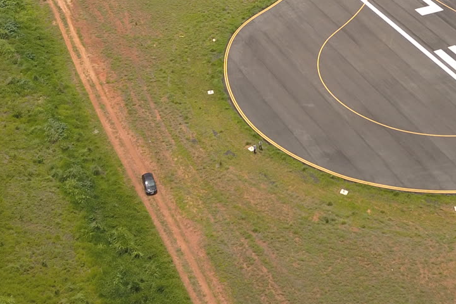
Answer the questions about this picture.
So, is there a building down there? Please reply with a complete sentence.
No, the scene contains no building.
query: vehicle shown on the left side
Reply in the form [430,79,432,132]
[142,169,159,190]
